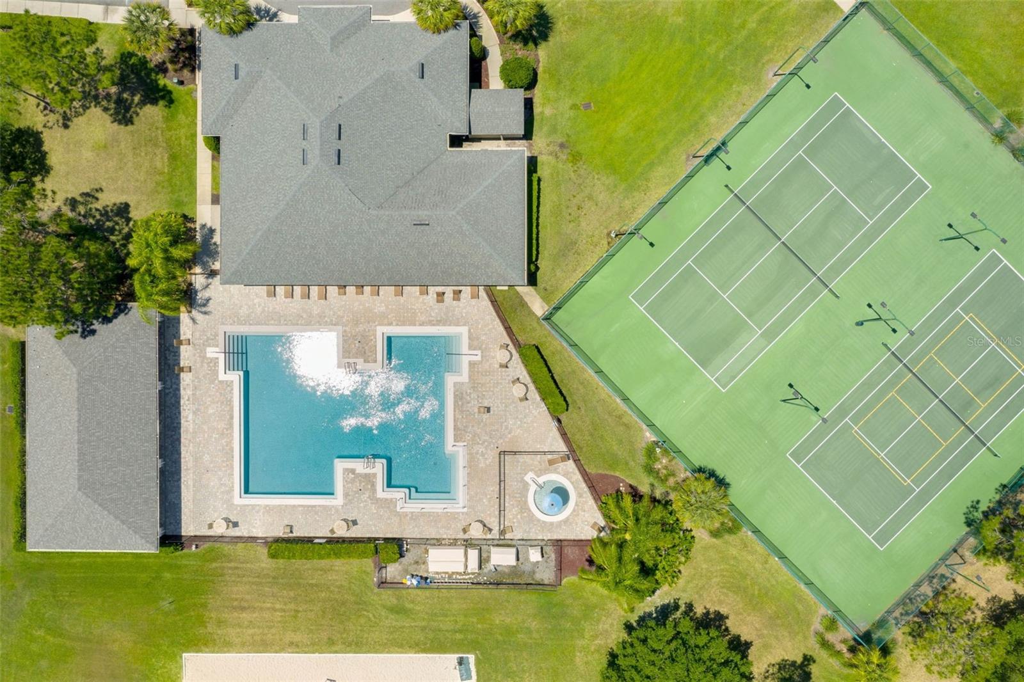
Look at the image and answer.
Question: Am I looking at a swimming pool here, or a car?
swimming pool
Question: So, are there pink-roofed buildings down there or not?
No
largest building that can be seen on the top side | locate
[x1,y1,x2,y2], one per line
[200,6,528,286]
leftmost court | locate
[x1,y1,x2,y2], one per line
[182,653,475,682]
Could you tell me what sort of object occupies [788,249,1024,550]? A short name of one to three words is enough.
tennis court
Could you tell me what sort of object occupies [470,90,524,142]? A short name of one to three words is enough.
shed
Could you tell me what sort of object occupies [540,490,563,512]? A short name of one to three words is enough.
fountain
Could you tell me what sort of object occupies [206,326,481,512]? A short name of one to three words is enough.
swimming pool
